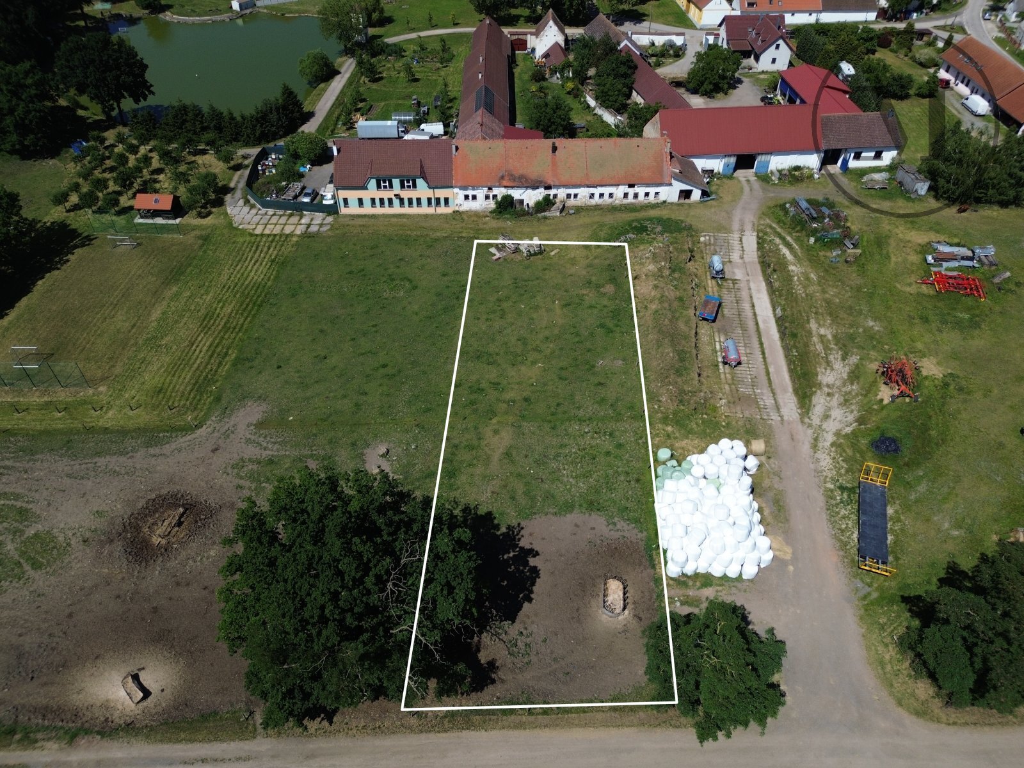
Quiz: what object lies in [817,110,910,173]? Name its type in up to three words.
shed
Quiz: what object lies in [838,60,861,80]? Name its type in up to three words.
camper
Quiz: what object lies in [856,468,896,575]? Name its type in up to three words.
trailer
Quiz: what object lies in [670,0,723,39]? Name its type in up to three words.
house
